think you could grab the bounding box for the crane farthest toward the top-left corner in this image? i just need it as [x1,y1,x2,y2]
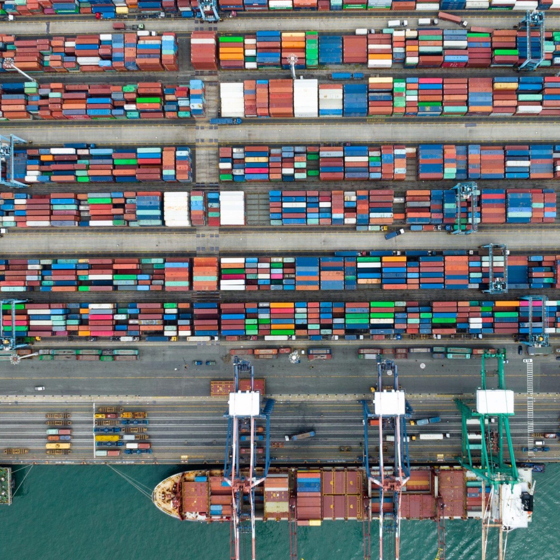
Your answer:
[0,134,35,190]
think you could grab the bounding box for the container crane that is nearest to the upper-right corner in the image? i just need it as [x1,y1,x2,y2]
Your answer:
[512,9,546,73]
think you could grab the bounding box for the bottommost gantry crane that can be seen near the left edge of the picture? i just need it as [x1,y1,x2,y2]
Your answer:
[0,298,36,349]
